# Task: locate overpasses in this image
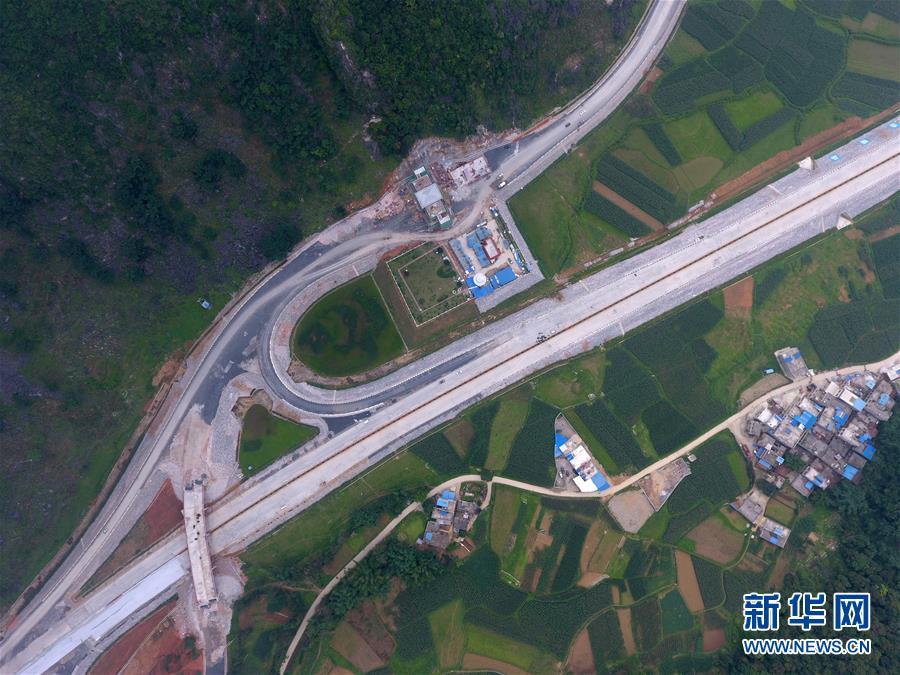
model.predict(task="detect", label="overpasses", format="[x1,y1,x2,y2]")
[183,483,224,606]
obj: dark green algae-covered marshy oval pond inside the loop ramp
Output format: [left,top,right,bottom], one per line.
[292,273,403,378]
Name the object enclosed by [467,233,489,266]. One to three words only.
house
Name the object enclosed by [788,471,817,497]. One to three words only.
house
